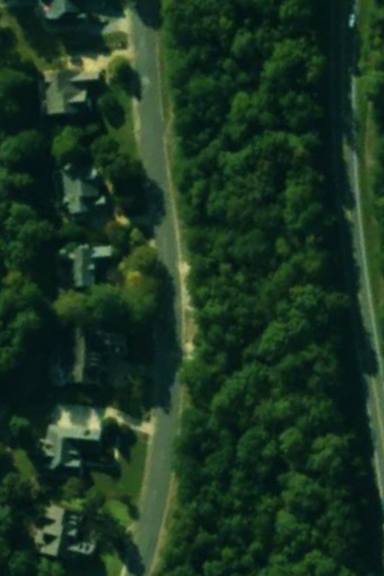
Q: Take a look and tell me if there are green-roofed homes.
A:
Yes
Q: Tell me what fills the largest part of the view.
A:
trees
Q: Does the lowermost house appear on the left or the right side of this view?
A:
left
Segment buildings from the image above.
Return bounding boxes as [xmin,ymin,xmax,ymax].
[73,329,100,385]
[39,425,101,471]
[32,507,96,569]
[60,171,106,214]
[37,0,88,24]
[41,69,99,114]
[67,245,112,287]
